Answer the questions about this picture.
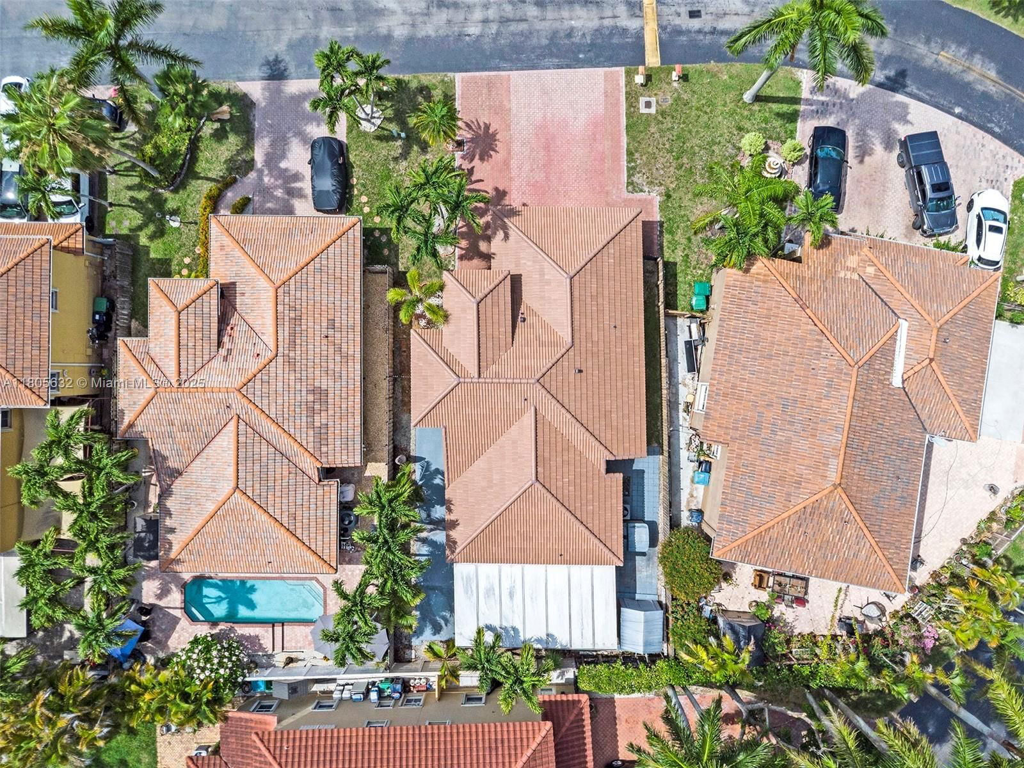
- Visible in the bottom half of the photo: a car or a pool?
pool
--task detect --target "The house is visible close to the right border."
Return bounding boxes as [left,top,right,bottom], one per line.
[689,232,1004,595]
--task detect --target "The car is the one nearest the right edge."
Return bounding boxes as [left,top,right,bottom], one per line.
[966,191,1014,269]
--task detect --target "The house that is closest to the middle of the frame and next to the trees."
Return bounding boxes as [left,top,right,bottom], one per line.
[409,204,647,568]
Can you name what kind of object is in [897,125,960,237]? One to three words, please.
truck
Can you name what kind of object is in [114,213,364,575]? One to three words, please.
house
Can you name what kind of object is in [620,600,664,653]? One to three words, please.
shed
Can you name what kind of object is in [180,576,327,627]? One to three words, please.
swimming pool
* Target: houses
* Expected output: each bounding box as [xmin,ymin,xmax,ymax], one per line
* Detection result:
[689,232,1004,595]
[114,213,364,575]
[183,683,594,768]
[0,220,108,557]
[409,204,647,568]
